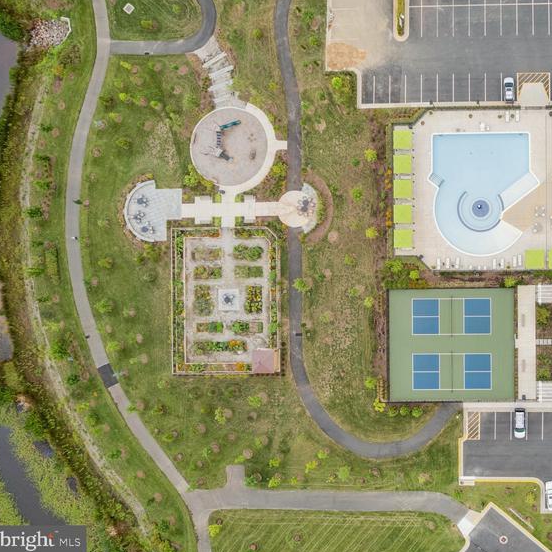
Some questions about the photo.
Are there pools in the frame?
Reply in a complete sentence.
Yes, a pool is visible in the scene.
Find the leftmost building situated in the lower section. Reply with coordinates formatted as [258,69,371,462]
[251,347,285,373]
